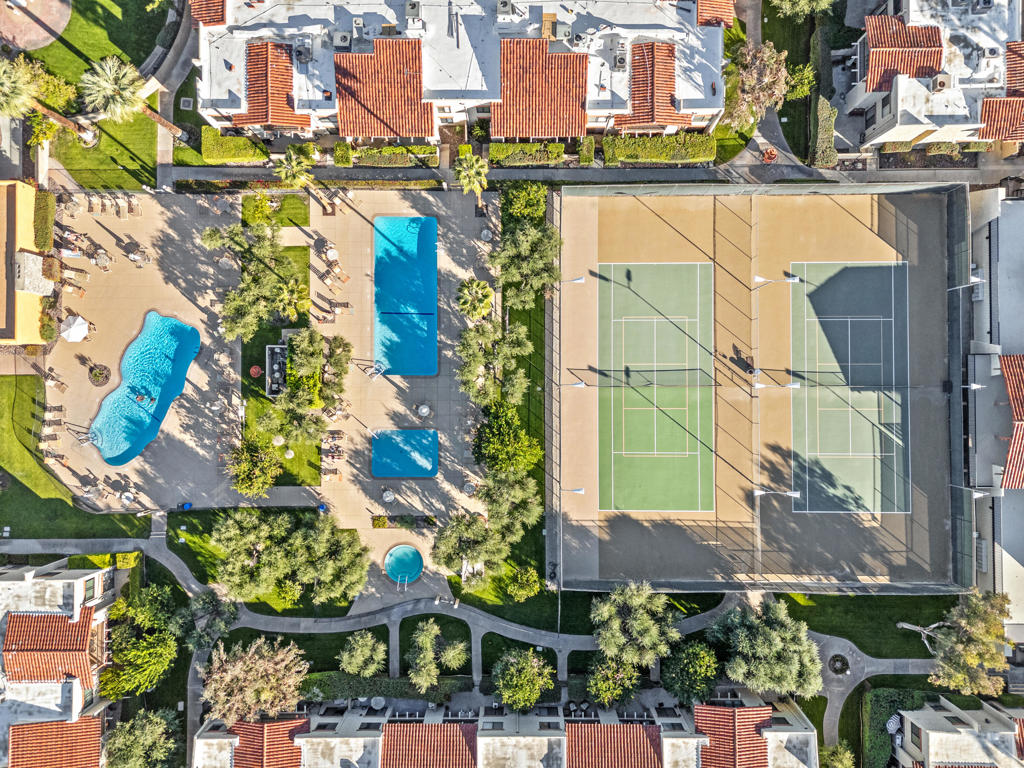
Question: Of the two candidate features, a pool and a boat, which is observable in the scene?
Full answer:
The one in the frame is a pool.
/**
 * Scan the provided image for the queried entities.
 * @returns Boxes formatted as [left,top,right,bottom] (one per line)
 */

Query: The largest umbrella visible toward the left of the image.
[61,314,92,343]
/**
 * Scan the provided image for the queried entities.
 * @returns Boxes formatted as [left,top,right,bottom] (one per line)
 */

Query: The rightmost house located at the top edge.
[835,0,1024,156]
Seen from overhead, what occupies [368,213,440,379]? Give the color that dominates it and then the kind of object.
blue swimming pool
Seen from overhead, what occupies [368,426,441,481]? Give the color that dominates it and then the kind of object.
blue swimming pool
